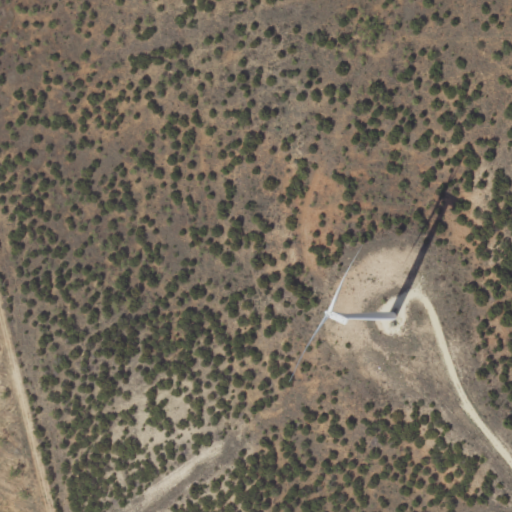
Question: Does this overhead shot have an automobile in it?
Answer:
No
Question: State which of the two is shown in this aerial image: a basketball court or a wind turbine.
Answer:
wind turbine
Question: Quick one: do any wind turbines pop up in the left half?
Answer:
No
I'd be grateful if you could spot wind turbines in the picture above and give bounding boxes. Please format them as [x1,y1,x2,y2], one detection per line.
[292,248,403,379]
